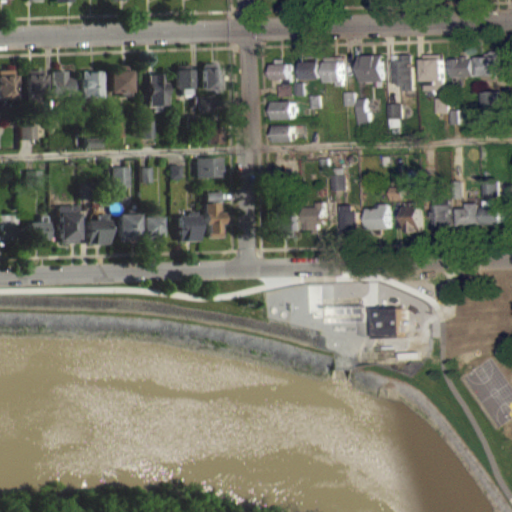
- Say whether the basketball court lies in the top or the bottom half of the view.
bottom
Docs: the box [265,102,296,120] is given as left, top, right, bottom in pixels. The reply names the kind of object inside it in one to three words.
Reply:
house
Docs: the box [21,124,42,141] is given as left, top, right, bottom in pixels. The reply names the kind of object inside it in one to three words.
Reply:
building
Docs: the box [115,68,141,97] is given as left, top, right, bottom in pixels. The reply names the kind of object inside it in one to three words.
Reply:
house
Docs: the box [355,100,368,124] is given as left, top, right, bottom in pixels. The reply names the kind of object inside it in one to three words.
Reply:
building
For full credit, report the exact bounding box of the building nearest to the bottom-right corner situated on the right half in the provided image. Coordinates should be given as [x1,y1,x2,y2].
[370,306,402,338]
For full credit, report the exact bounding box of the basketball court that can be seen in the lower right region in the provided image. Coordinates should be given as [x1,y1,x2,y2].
[458,356,512,432]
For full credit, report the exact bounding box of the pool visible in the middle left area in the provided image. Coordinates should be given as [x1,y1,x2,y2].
[110,202,126,216]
